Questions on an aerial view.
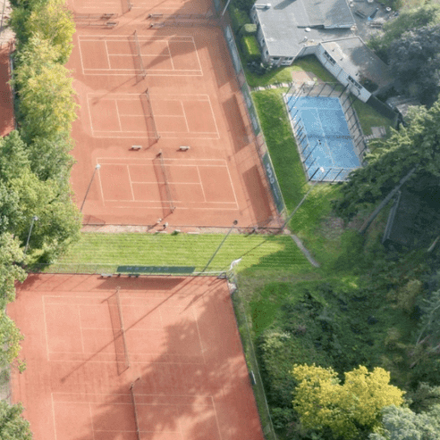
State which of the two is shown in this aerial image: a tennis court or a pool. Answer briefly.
tennis court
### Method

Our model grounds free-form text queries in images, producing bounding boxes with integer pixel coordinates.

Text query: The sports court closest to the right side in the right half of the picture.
[281,80,374,185]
